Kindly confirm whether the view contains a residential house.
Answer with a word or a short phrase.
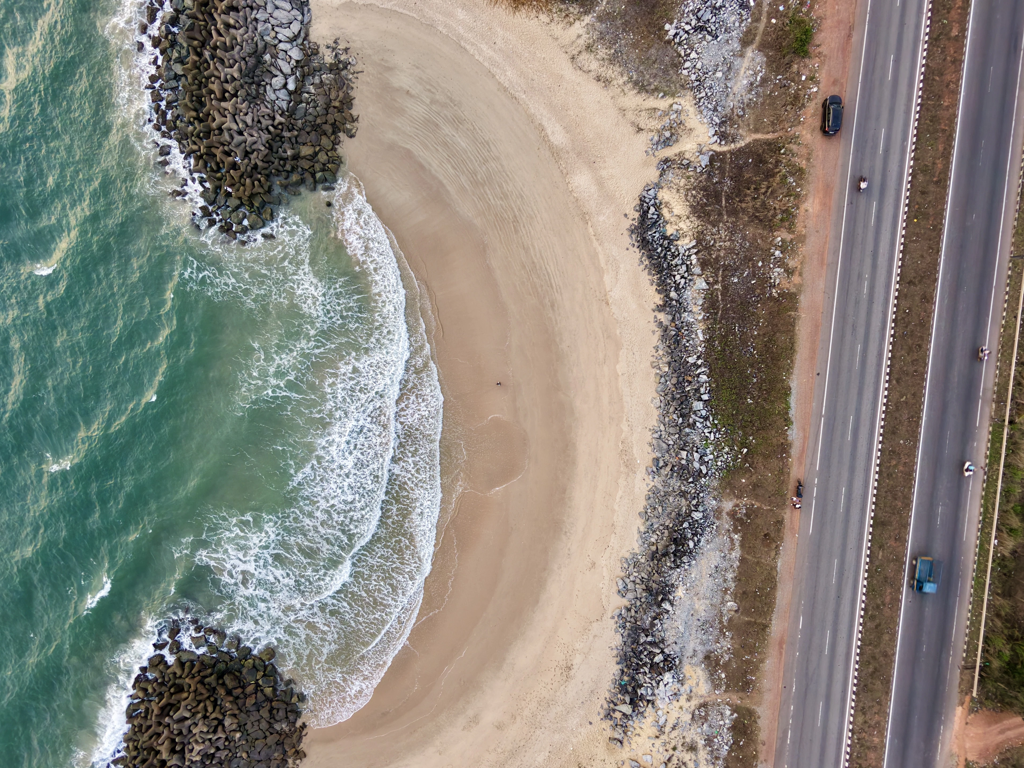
No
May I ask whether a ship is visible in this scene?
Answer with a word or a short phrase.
No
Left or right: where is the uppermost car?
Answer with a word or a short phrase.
right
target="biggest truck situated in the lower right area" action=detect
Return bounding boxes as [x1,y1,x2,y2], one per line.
[915,560,942,598]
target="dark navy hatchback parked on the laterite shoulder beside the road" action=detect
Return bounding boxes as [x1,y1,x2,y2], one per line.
[823,94,846,135]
